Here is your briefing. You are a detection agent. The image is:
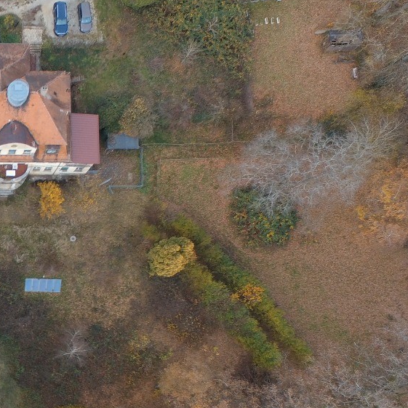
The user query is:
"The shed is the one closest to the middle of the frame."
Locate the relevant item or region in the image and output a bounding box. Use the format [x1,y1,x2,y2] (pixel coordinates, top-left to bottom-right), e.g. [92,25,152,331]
[106,133,139,155]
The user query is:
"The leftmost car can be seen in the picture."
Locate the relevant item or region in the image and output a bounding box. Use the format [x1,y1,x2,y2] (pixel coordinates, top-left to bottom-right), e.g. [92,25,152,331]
[52,5,68,35]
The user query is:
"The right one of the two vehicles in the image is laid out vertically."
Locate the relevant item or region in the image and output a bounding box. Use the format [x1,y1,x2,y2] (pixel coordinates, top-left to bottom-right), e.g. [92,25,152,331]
[77,5,92,33]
